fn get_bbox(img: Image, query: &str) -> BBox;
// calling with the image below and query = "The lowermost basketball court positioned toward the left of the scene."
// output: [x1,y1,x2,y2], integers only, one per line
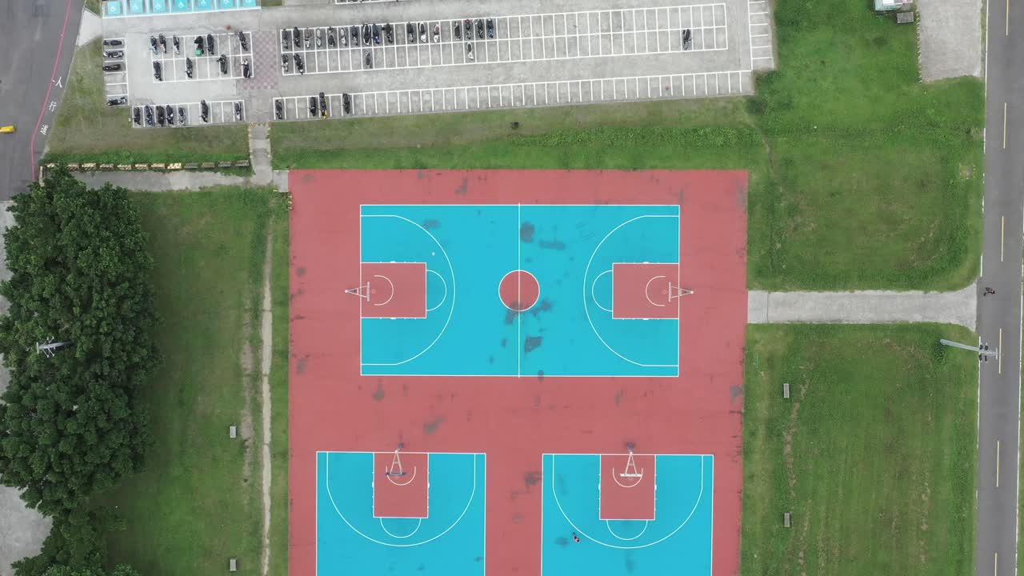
[316,451,486,576]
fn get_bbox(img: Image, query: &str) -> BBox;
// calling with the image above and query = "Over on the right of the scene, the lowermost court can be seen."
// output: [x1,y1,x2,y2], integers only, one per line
[541,453,714,576]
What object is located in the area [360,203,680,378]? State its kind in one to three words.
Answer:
basketball court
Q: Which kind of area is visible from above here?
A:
sports ground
